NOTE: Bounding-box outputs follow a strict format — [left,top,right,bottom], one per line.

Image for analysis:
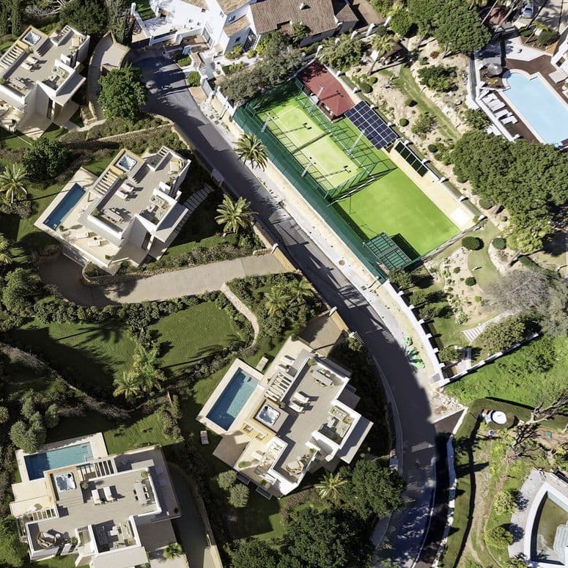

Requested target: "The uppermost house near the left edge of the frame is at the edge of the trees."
[0,27,102,144]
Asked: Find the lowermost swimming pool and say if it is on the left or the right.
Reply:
right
